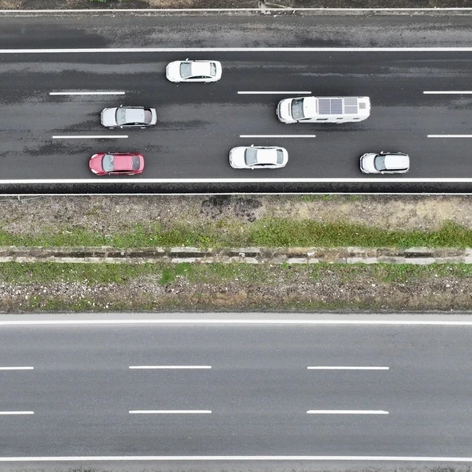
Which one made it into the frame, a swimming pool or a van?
van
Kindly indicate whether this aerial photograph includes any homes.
No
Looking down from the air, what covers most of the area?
paved ground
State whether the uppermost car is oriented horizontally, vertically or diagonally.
horizontally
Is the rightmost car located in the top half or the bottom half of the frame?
top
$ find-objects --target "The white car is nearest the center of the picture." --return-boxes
[227,143,289,170]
